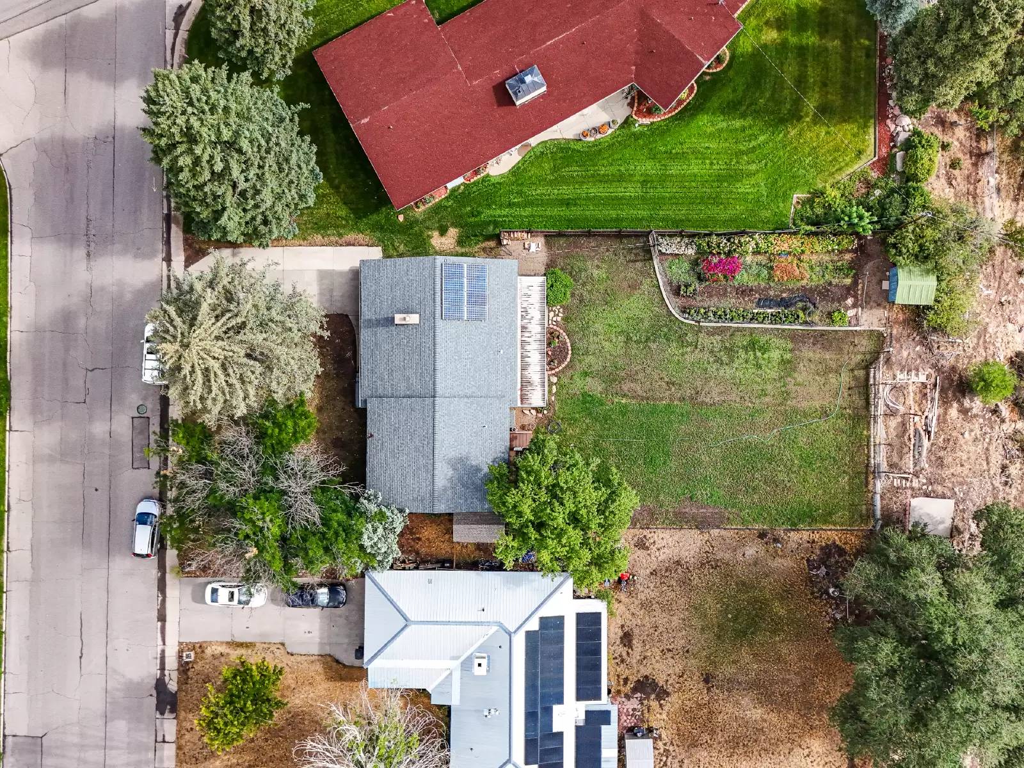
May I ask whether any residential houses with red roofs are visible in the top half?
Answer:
Yes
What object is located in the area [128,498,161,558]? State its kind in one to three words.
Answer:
car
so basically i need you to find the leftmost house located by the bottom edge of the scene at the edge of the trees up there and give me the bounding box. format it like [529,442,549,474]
[363,570,618,768]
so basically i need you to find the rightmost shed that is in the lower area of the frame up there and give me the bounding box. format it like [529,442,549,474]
[625,736,654,768]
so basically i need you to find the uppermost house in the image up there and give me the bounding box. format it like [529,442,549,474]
[313,0,751,210]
